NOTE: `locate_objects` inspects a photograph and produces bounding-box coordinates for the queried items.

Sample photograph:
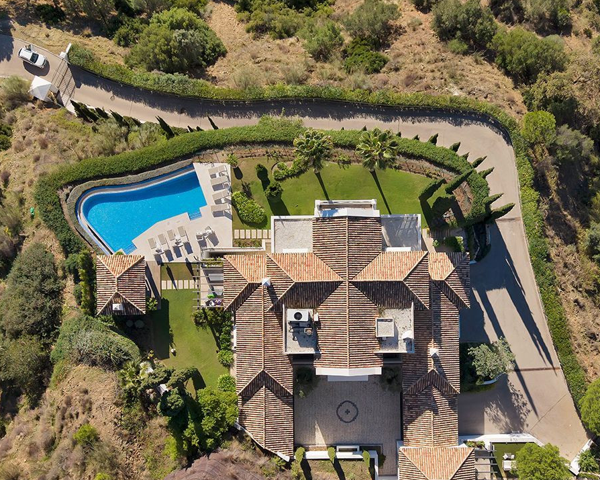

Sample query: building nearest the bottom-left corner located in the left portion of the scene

[95,254,149,316]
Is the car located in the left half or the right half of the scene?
left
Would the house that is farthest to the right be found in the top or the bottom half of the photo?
bottom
